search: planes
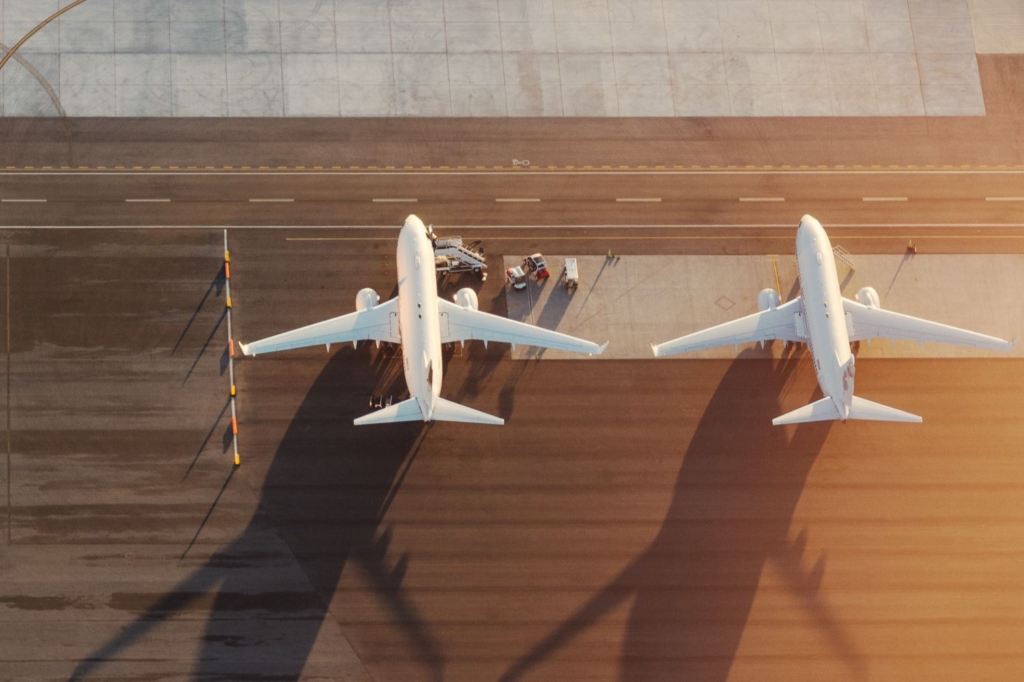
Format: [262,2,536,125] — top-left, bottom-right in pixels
[237,215,610,426]
[650,215,1019,426]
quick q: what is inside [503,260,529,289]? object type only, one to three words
work vehicle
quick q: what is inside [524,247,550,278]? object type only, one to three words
work vehicle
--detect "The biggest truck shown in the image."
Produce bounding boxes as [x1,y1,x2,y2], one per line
[433,234,489,275]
